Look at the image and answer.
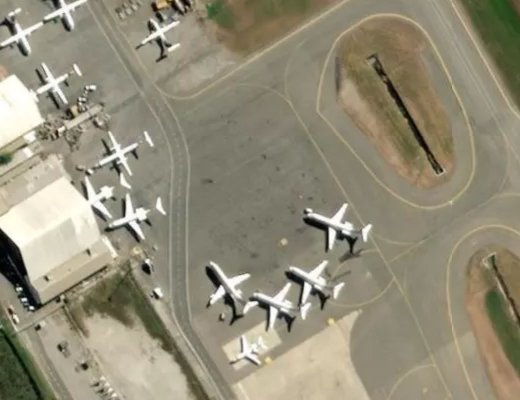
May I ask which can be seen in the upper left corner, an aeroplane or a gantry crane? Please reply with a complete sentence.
Visible in the upper left corner is an aeroplane.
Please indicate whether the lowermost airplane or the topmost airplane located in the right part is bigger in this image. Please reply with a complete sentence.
It is the topmost airplane located in the right part that is larger, not the lowermost airplane.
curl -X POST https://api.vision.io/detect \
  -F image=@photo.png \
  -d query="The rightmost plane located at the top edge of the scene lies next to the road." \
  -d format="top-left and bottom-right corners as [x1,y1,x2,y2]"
[142,19,180,51]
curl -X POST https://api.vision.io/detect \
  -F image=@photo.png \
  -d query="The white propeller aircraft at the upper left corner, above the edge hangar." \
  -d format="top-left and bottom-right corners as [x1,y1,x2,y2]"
[0,9,46,54]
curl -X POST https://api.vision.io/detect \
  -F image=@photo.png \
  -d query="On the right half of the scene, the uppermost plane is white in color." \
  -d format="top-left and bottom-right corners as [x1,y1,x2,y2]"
[306,203,374,250]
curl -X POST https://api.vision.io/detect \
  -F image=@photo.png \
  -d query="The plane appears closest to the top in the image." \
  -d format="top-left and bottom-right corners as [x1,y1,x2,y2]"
[43,0,88,30]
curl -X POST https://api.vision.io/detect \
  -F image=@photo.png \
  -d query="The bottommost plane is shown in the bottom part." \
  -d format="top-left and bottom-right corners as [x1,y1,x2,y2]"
[236,336,269,364]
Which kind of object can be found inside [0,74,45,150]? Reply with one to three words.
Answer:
hangar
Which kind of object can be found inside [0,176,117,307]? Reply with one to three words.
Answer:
hangar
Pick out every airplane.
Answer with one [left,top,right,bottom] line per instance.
[100,131,153,174]
[253,281,314,331]
[0,9,46,54]
[43,0,88,30]
[37,62,83,102]
[89,173,133,214]
[142,19,180,51]
[289,259,346,307]
[306,203,374,250]
[210,263,261,315]
[236,336,269,364]
[109,194,167,239]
